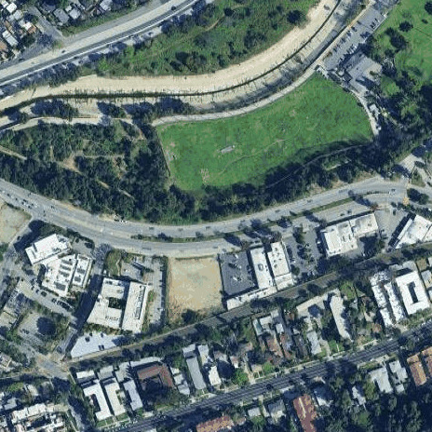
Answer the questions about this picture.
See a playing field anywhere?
Yes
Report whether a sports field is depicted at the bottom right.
No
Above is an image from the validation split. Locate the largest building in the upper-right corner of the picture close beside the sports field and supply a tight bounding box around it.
[346,52,383,84]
